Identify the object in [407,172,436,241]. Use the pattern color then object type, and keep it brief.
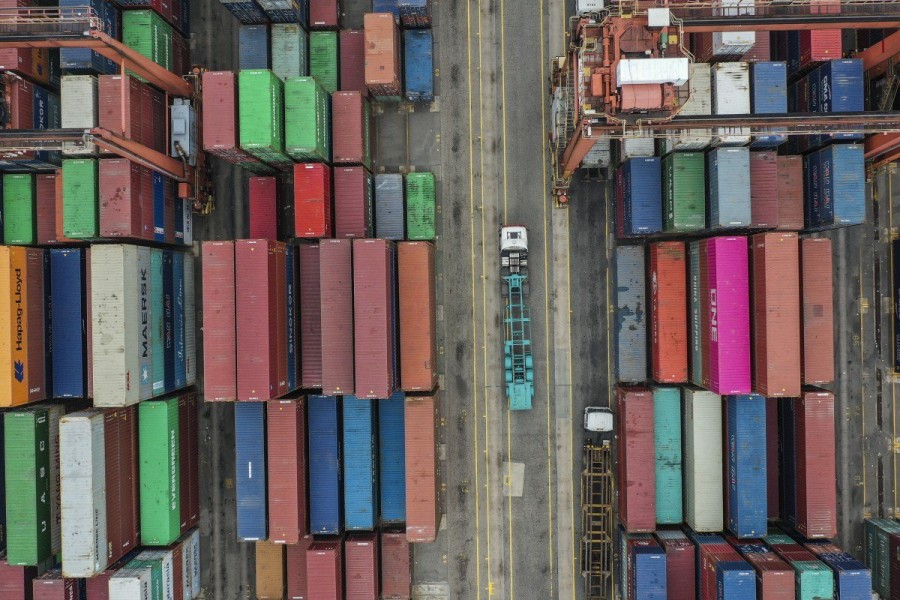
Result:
green shipping container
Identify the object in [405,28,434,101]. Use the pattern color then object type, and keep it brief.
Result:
blue shipping container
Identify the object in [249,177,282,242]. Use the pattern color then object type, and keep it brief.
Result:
red shipping container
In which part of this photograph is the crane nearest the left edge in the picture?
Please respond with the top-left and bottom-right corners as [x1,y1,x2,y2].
[0,11,211,217]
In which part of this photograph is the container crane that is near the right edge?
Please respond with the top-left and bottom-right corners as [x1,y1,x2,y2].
[545,0,900,211]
